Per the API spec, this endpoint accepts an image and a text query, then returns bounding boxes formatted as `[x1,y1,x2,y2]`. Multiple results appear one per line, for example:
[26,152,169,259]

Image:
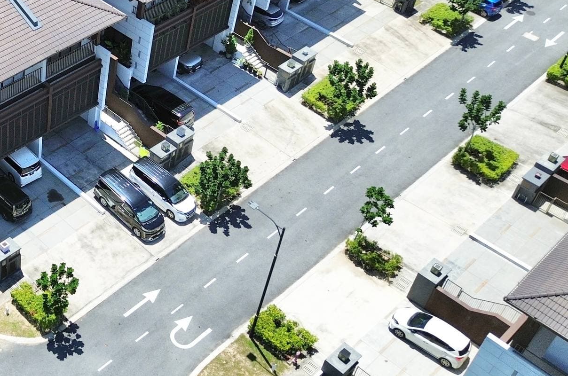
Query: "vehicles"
[385,303,481,374]
[136,83,203,132]
[0,176,53,239]
[469,0,507,20]
[93,162,174,240]
[179,53,193,63]
[0,148,67,203]
[125,148,206,221]
[259,1,296,33]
